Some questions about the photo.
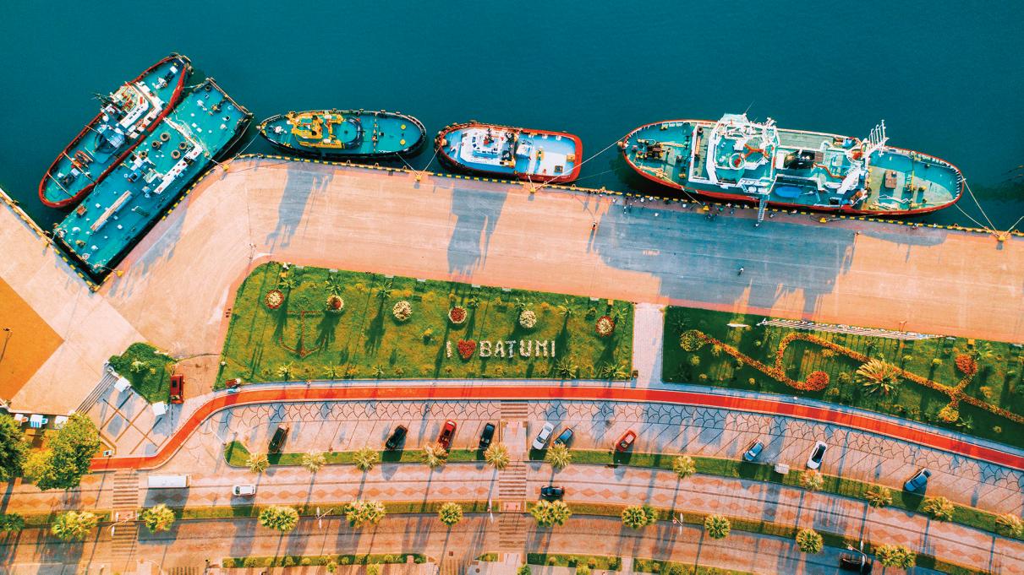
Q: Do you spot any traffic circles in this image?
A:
No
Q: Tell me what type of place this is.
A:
port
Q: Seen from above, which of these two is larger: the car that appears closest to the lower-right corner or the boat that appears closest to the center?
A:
the boat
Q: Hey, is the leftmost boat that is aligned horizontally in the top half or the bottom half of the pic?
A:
top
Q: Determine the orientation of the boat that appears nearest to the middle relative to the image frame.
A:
from left to right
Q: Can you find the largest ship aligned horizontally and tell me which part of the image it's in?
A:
top right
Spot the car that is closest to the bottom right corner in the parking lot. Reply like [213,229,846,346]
[902,469,931,493]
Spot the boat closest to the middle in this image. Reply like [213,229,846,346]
[435,121,583,184]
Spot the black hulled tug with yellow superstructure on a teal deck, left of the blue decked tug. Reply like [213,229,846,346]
[257,108,427,161]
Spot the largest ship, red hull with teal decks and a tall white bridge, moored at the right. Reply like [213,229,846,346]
[615,90,965,214]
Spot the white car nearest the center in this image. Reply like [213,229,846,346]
[532,422,554,451]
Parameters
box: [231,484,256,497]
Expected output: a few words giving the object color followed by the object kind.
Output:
white vehicle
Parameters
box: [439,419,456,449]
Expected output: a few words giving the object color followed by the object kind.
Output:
red car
